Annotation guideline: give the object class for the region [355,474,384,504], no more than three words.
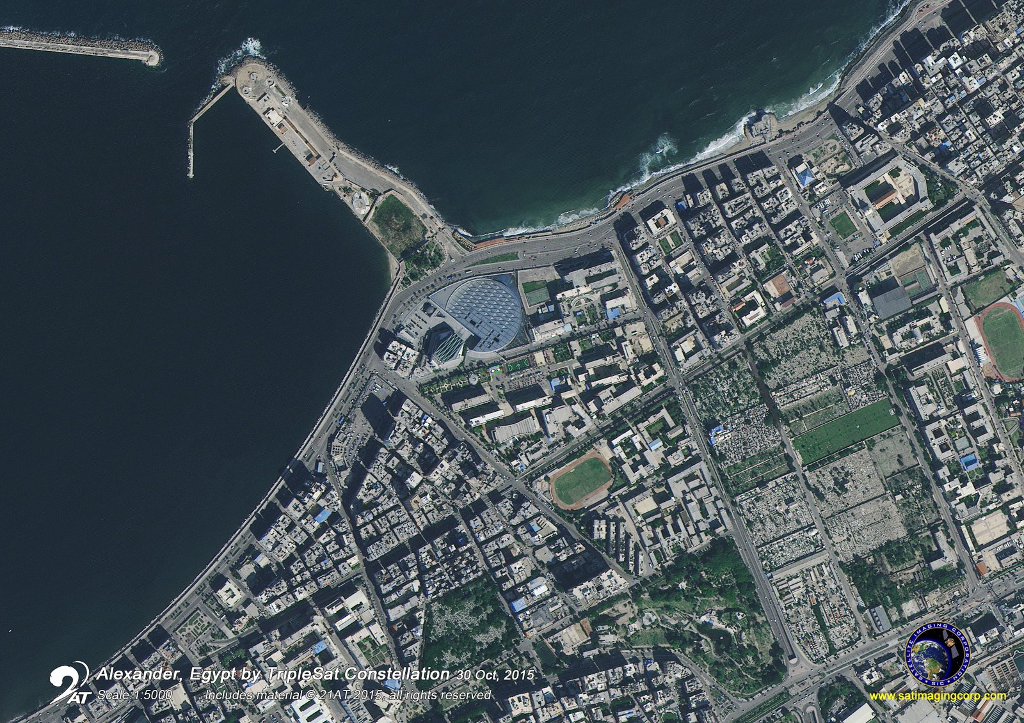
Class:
building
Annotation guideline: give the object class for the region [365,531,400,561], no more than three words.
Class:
building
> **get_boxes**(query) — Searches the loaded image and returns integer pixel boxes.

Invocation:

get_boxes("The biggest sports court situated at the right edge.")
[970,510,1010,545]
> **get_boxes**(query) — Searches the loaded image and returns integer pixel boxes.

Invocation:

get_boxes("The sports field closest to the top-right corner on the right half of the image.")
[963,270,1013,307]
